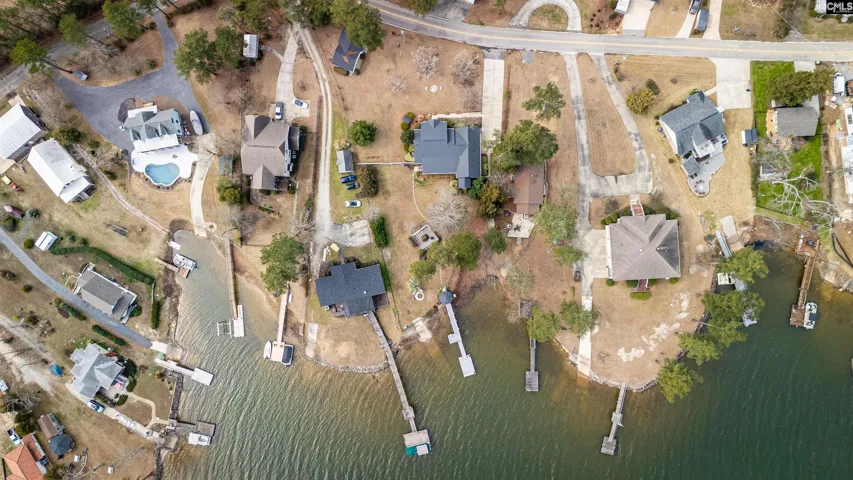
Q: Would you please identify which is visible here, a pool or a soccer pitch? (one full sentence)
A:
Visible in the photo is a pool.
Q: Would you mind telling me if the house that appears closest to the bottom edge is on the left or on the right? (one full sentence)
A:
It is on the left.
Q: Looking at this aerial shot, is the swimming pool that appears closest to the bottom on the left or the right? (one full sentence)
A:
You can find the swimming pool that appears closest to the bottom on the left side of the picture.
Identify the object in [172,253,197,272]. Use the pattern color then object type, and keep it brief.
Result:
white boat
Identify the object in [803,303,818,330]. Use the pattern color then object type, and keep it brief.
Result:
white boat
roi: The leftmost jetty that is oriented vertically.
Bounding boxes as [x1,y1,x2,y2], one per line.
[225,238,245,339]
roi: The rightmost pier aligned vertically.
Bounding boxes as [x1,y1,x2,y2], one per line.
[789,238,819,326]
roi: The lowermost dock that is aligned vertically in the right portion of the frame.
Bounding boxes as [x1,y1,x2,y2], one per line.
[600,382,627,456]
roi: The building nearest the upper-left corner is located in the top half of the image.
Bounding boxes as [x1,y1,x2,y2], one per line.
[0,97,48,177]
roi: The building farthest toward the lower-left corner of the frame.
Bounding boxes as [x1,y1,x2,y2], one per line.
[2,432,53,480]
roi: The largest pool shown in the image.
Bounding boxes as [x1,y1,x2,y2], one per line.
[143,162,181,186]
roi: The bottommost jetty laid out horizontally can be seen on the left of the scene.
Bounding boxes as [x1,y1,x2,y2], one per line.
[168,420,217,438]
